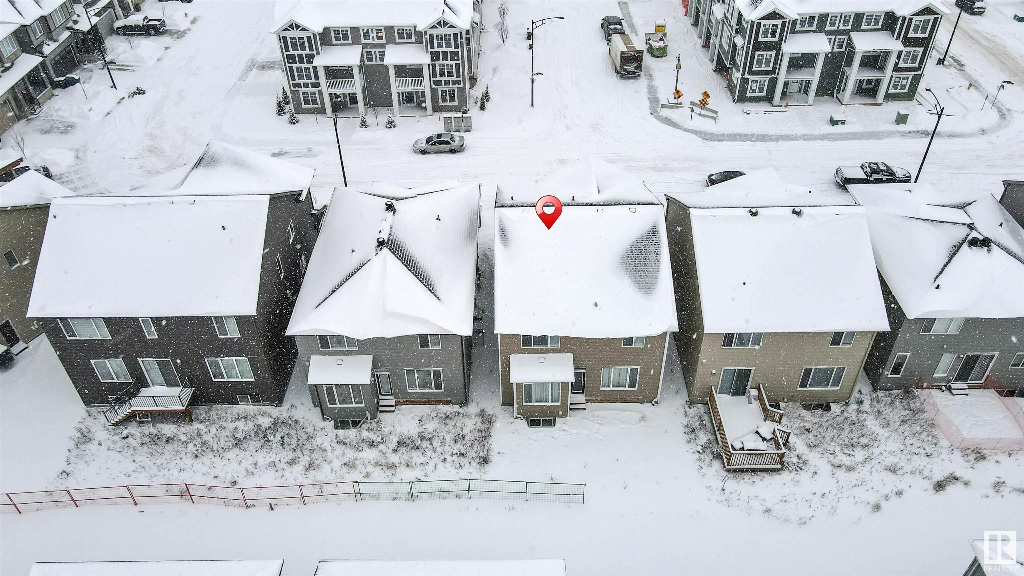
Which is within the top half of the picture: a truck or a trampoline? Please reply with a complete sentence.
Looking within the top half of the picture, you will find a truck.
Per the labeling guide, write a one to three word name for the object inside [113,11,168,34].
truck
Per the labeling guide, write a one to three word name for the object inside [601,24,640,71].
truck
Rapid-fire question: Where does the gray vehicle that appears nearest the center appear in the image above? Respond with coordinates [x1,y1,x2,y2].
[413,129,467,152]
